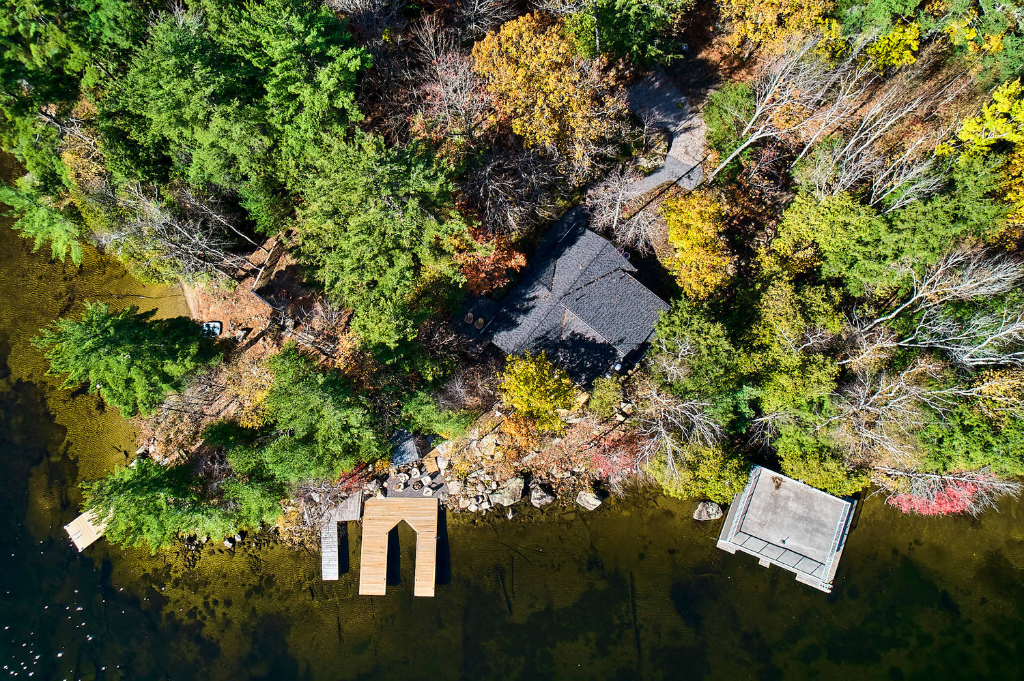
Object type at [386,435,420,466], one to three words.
shed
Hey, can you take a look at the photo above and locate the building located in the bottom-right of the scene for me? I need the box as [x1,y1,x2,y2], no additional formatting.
[714,466,862,592]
